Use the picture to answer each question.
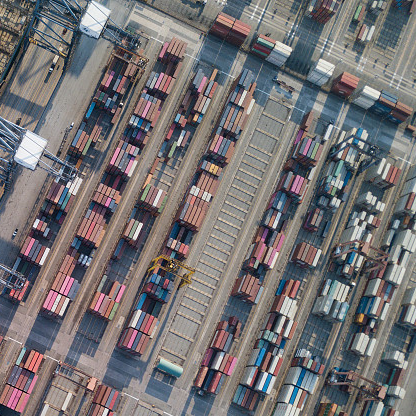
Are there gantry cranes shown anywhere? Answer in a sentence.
Yes, there's a gantry crane down there.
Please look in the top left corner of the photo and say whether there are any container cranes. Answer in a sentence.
Yes, I can see a container crane in the top left corner of the photo.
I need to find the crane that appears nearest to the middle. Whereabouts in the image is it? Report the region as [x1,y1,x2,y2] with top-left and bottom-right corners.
[144,254,195,290]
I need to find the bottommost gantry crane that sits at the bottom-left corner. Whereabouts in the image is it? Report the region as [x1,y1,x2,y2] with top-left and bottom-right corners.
[49,360,98,392]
